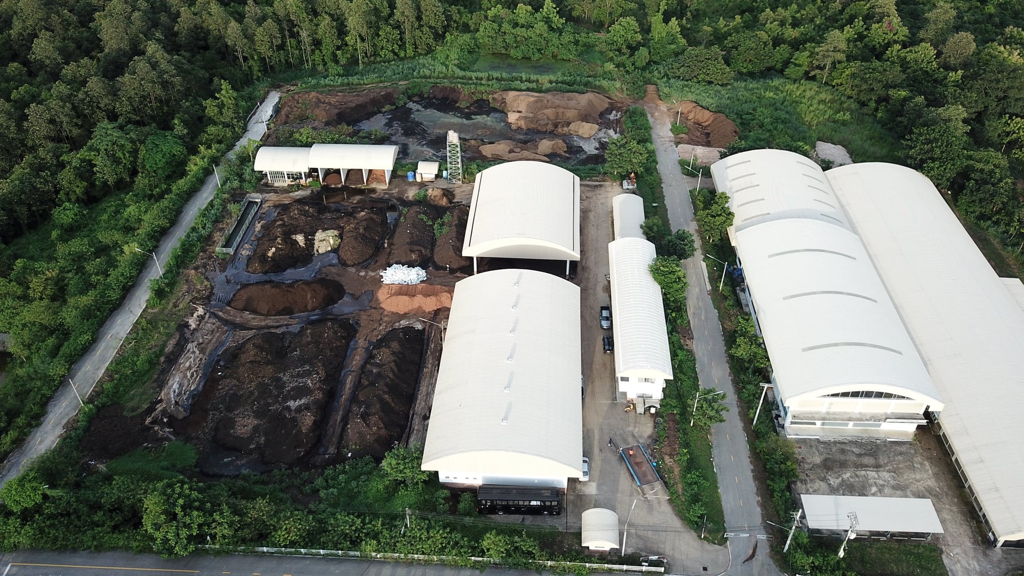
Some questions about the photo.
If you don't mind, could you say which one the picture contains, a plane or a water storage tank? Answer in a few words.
water storage tank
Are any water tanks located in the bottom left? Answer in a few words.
No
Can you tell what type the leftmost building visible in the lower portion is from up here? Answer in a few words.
warehouse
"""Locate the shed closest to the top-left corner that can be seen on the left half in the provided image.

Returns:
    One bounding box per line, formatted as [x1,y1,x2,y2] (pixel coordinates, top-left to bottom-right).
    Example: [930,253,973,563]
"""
[250,147,314,187]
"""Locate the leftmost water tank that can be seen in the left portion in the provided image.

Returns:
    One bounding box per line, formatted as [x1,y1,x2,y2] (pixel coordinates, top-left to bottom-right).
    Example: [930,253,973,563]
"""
[215,190,262,253]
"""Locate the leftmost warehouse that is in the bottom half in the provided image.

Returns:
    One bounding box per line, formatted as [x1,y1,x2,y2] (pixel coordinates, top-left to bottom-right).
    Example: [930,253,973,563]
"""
[421,263,584,495]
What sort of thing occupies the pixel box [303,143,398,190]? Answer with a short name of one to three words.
shed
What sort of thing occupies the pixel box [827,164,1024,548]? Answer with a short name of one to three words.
building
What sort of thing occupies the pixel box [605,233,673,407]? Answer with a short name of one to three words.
house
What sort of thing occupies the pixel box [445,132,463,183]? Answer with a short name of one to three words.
water tower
